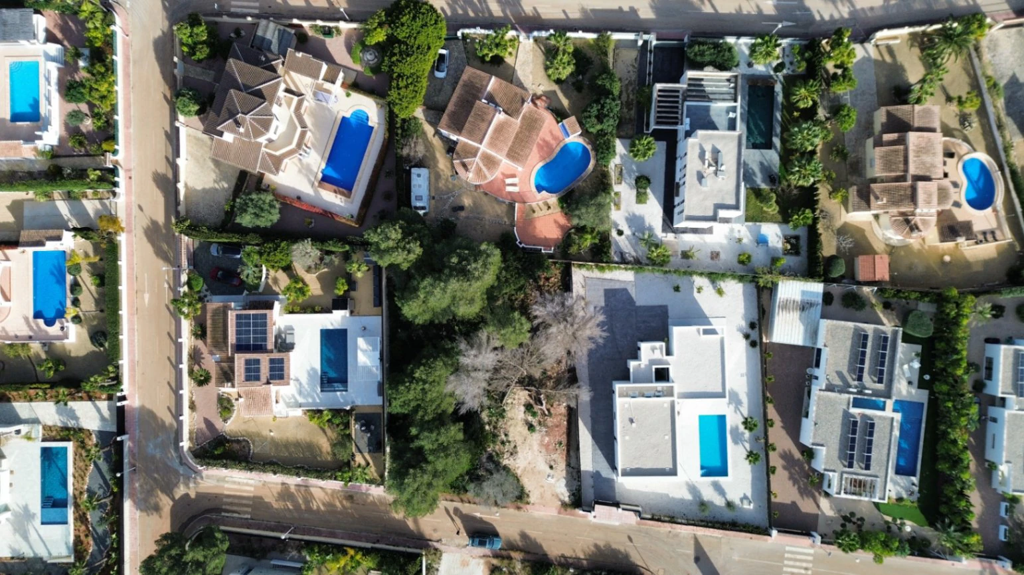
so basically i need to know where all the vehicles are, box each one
[210,242,243,259]
[433,47,449,79]
[409,165,429,213]
[467,532,502,552]
[210,266,242,287]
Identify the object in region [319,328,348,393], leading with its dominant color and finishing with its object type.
blue swimming pool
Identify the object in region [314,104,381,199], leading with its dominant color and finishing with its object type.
blue swimming pool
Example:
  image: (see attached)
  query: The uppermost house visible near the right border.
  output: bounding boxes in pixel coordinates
[841,105,975,244]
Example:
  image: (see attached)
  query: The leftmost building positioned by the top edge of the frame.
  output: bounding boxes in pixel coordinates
[0,9,61,51]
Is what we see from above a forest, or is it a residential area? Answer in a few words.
residential area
